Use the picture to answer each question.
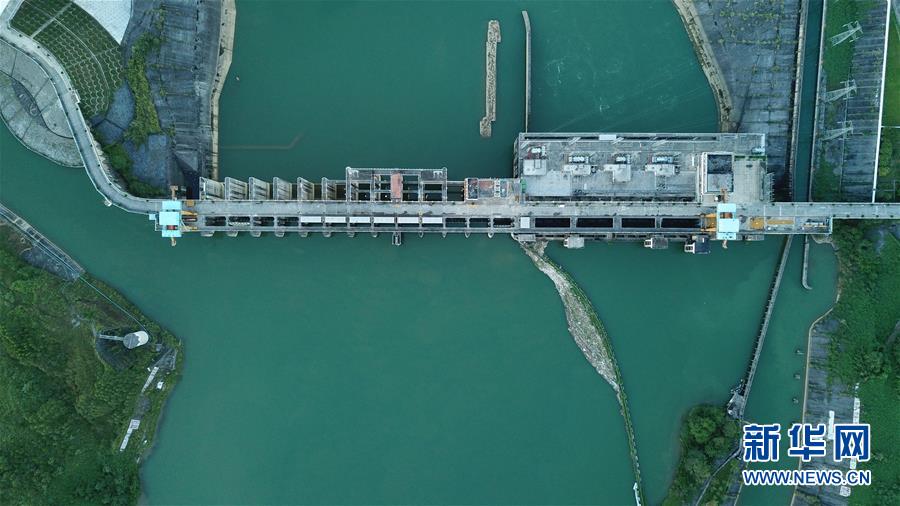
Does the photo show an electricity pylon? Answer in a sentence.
Yes, looking at the shot, I can spot an electricity pylon.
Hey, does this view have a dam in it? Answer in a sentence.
Yes, the photo shows a dam.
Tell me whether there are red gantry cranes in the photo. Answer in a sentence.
No, there's no red gantry crane here.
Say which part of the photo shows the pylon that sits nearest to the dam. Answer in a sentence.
The pylon that sits nearest to the dam sits in the top right section of the image.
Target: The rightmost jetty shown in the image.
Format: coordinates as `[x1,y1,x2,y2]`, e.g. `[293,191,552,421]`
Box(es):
[800,235,812,290]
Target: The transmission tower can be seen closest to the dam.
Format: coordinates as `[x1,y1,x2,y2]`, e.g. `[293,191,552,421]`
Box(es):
[817,123,850,144]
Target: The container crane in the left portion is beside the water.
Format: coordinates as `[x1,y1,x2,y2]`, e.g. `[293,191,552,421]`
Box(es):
[150,187,198,249]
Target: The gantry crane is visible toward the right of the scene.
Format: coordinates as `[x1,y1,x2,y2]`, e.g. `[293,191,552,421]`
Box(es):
[700,187,741,249]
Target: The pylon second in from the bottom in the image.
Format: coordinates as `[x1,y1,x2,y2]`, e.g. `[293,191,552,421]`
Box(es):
[822,76,856,99]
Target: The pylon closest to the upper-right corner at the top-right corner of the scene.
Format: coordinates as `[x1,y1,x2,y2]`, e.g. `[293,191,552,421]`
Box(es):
[828,19,863,47]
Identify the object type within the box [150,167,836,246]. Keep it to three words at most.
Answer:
dam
